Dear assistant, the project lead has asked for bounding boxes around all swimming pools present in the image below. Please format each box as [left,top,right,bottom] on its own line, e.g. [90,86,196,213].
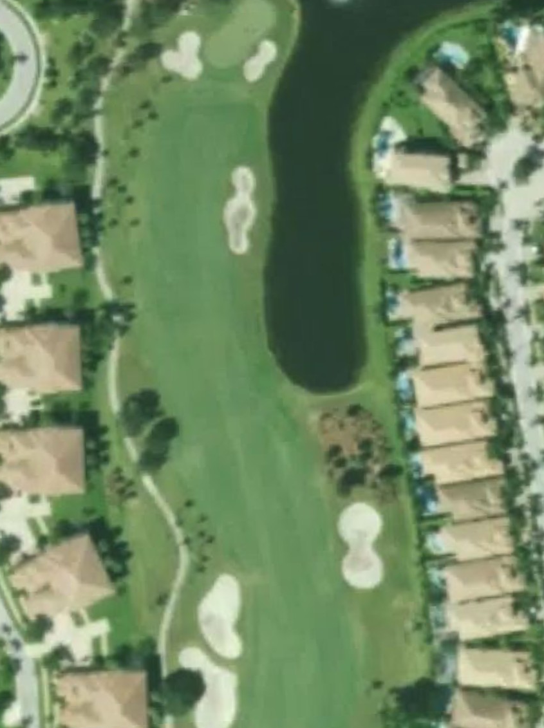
[397,372,416,400]
[375,118,406,180]
[436,642,457,682]
[499,23,529,61]
[402,412,417,440]
[411,452,424,477]
[389,238,408,269]
[387,286,407,322]
[426,530,446,555]
[434,43,469,69]
[377,192,394,229]
[395,327,414,358]
[416,486,439,515]
[427,569,446,600]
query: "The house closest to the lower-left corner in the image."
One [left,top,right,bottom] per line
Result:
[62,671,151,728]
